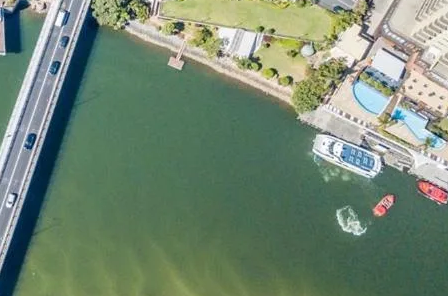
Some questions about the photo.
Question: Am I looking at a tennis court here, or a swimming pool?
swimming pool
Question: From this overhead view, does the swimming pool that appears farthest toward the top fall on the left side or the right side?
right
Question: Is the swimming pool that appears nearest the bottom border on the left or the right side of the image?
right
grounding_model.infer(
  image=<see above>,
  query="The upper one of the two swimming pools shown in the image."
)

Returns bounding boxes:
[352,79,392,117]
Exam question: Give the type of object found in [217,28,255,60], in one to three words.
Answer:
building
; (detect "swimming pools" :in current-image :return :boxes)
[352,79,392,117]
[390,106,447,152]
